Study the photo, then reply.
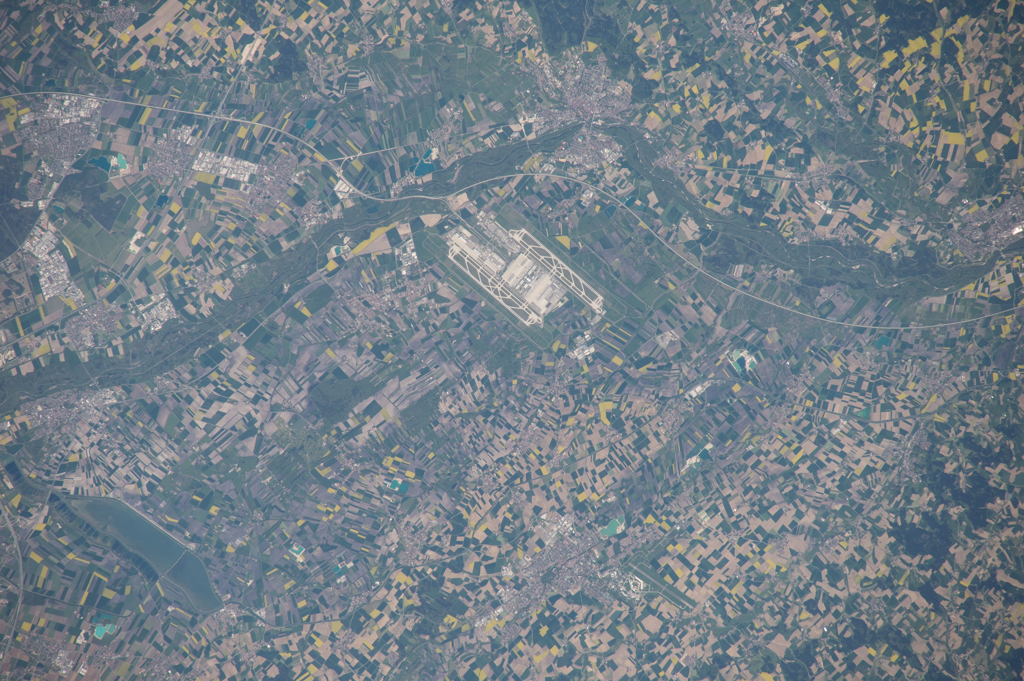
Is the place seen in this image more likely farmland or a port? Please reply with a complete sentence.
This image shows farmland.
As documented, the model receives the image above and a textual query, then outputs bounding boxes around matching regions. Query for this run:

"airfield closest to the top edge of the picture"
[425,211,627,342]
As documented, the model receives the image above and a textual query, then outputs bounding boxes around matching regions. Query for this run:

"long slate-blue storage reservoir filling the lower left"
[70,497,220,612]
